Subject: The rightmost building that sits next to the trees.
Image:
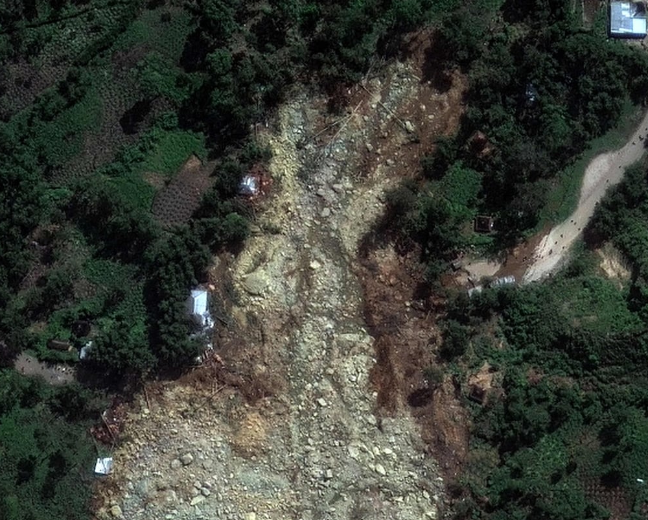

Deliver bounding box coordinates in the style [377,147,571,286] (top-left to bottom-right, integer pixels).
[612,0,648,32]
